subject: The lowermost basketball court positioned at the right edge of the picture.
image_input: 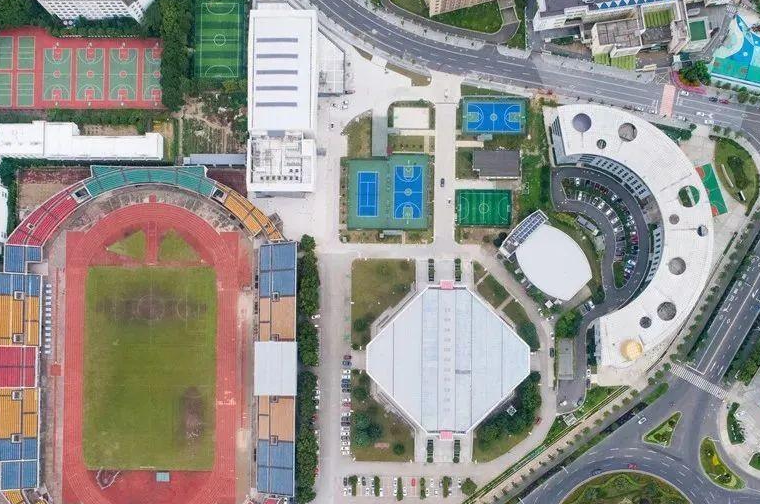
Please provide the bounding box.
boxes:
[696,162,729,217]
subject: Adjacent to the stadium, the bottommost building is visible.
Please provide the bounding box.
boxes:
[366,279,532,441]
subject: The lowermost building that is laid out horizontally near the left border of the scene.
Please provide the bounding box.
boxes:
[0,122,171,165]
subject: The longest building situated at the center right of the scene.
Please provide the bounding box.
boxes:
[557,104,713,369]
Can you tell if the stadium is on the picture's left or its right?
left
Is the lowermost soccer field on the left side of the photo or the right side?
left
